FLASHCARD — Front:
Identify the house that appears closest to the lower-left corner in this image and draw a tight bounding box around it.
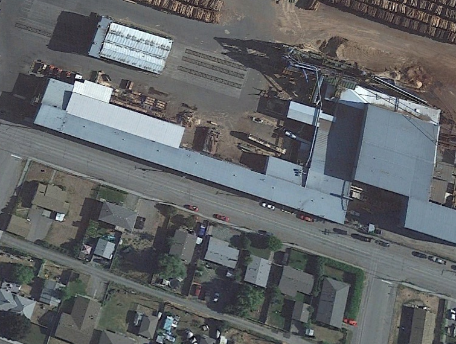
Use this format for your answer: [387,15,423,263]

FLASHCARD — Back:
[0,287,36,317]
